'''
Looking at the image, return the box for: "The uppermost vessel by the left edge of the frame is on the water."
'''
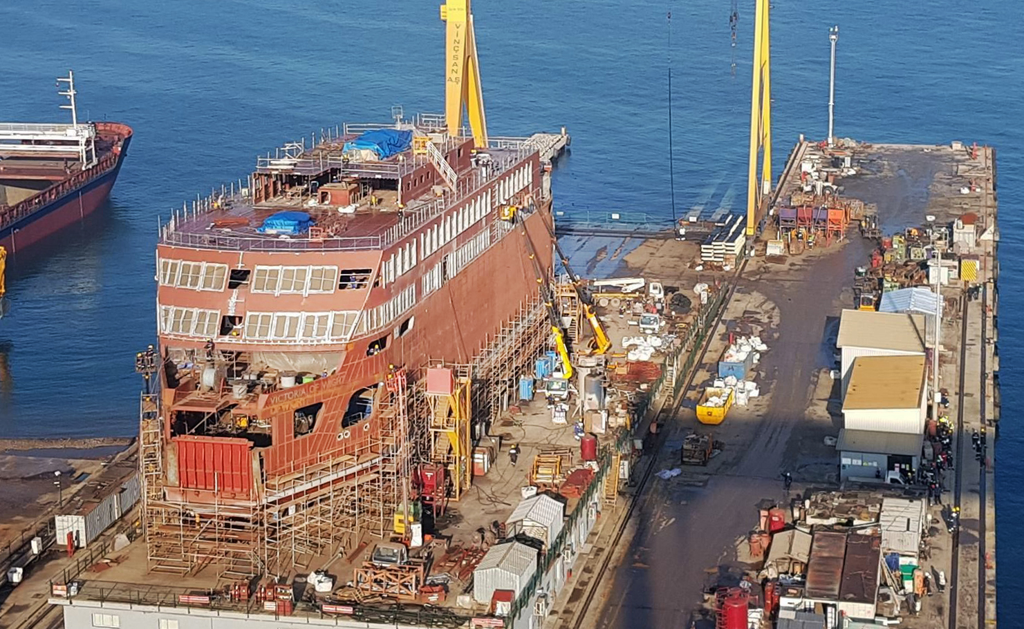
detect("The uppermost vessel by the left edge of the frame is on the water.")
[0,71,125,279]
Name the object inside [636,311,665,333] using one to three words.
truck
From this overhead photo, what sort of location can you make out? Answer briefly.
port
